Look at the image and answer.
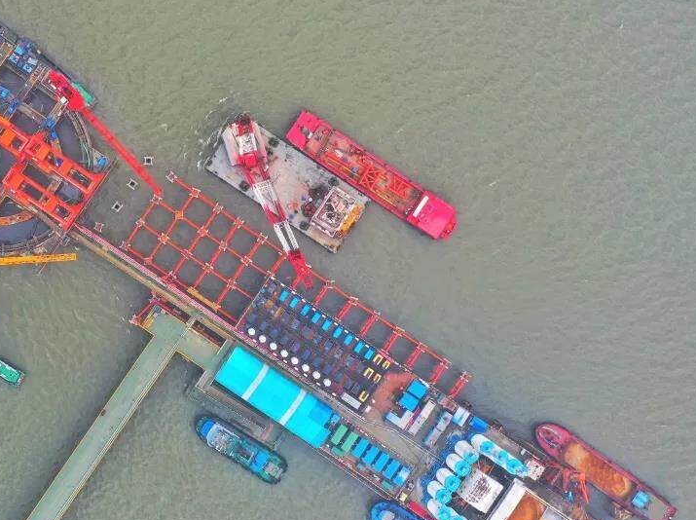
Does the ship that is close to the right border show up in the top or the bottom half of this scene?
bottom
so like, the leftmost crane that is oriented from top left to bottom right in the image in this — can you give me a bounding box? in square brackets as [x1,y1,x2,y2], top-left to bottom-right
[47,69,165,201]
